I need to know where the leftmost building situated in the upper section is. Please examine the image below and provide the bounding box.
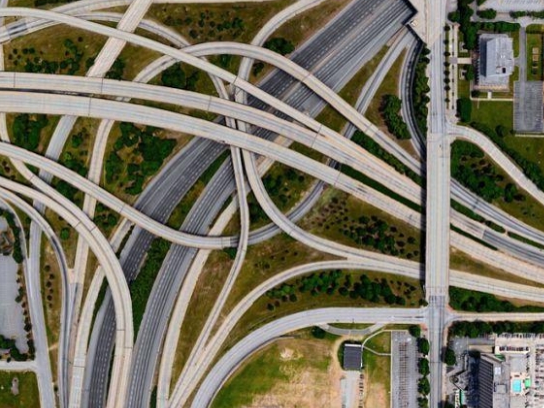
[475,35,513,91]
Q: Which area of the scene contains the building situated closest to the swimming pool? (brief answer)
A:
bottom right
